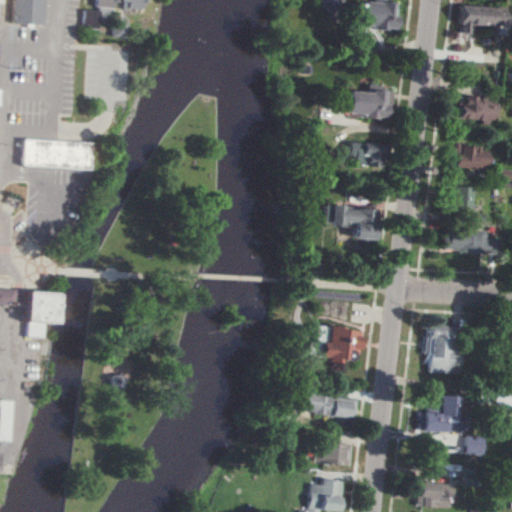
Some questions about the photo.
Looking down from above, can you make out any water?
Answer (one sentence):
Yes, water shows up in the scene.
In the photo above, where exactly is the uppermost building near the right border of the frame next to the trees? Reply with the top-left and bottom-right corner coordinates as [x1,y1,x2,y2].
[460,4,512,32]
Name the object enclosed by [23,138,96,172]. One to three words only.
building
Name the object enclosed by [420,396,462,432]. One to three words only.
house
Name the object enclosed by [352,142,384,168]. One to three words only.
house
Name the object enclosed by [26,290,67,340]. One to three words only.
building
